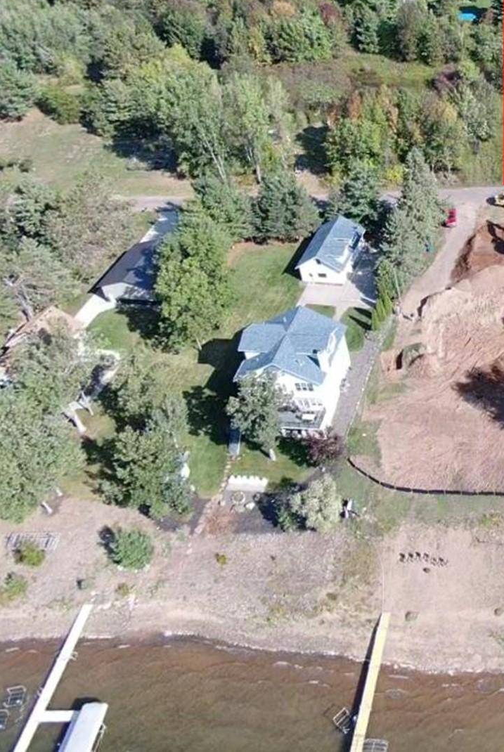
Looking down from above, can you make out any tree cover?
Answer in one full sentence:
Yes, there's tree cover in this view.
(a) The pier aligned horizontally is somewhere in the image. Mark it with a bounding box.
[45,710,78,724]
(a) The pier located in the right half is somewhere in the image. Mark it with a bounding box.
[352,615,392,752]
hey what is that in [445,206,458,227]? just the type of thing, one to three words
vehicle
